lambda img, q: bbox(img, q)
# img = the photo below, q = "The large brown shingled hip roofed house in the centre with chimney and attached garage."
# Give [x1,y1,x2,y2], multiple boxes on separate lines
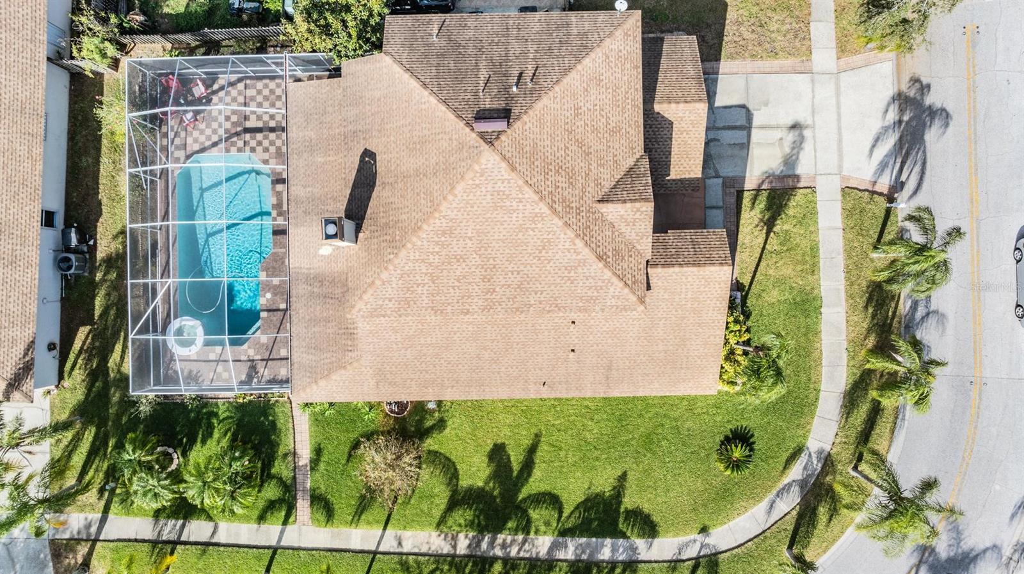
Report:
[286,0,732,404]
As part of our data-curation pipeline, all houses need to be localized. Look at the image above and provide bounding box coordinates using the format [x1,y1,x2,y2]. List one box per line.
[286,0,732,404]
[0,0,71,403]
